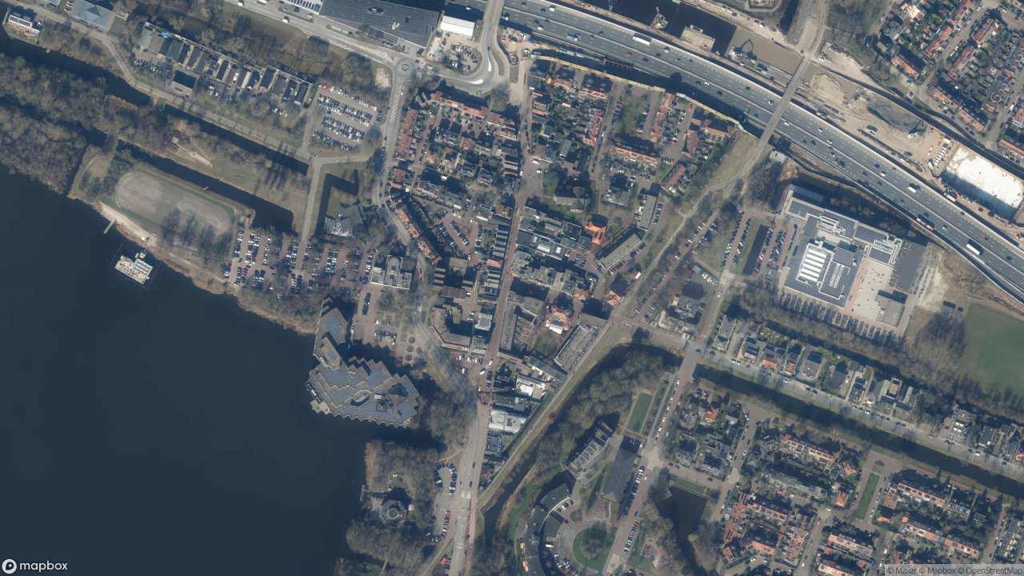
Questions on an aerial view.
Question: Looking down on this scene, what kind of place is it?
residential area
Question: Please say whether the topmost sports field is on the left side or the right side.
left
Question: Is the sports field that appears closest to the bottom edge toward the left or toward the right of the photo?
right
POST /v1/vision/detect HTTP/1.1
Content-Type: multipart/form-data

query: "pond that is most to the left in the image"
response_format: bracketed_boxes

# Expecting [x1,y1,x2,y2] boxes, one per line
[657,485,708,576]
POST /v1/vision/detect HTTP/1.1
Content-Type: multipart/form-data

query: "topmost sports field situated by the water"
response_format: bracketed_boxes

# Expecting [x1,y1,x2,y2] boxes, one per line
[110,166,242,254]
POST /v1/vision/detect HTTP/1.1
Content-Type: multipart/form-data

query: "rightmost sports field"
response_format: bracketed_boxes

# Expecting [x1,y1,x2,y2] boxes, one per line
[957,301,1024,398]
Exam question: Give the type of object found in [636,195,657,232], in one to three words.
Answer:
building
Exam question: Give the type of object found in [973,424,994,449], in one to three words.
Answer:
house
